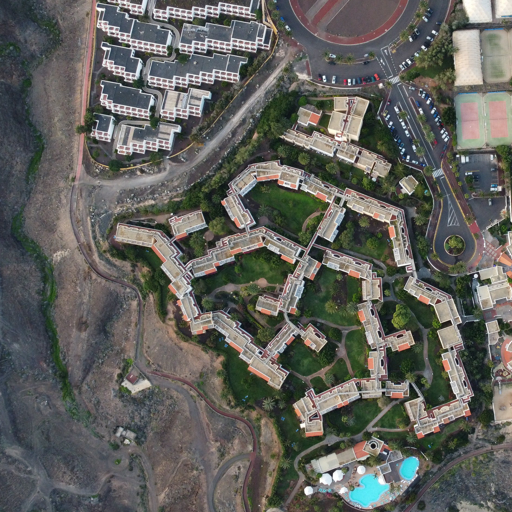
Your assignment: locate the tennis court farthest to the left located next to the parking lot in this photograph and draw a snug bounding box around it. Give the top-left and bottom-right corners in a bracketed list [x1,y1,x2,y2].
[455,91,486,148]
